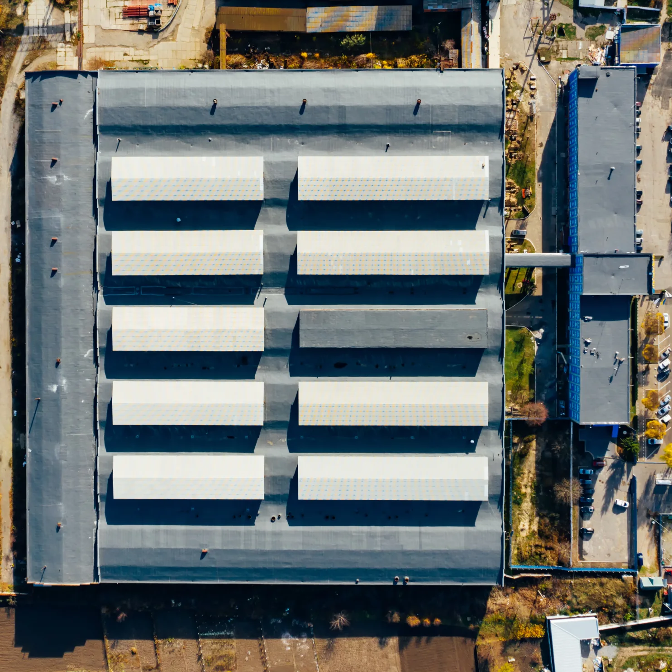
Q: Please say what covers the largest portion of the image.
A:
buildings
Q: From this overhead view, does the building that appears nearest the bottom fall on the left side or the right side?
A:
right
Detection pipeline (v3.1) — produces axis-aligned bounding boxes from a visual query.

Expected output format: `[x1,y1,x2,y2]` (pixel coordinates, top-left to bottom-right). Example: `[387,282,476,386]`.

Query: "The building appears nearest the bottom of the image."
[546,613,600,672]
